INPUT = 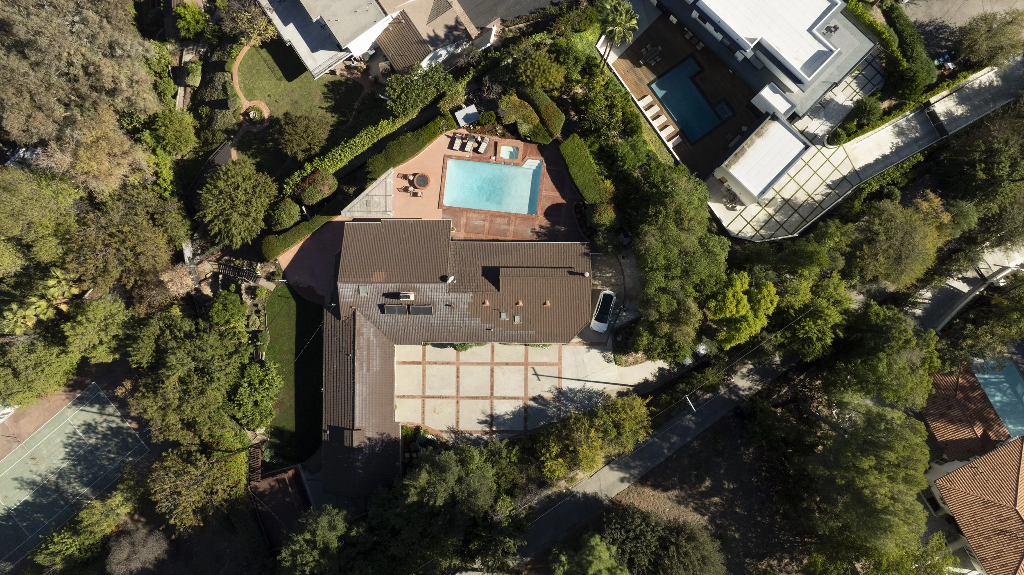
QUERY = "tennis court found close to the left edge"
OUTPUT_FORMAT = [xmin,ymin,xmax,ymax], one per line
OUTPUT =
[0,383,149,575]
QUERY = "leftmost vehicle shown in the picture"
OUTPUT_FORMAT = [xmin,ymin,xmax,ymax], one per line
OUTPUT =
[588,287,619,335]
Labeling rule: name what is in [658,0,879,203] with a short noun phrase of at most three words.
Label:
house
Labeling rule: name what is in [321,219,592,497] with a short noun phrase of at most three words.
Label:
house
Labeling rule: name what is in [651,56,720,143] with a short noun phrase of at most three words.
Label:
swimming pool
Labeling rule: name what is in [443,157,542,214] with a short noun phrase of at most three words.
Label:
swimming pool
